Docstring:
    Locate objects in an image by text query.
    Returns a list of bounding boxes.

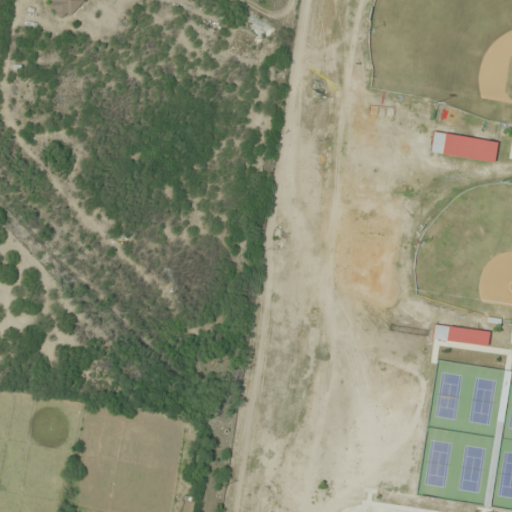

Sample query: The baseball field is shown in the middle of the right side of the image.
[416,184,512,317]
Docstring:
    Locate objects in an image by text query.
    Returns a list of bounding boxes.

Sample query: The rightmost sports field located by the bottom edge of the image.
[74,407,180,512]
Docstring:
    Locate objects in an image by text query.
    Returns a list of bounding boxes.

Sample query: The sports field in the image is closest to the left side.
[0,392,84,512]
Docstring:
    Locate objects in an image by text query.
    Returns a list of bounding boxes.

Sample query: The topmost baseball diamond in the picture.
[370,0,512,124]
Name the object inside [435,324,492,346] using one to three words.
building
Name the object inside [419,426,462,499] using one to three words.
tennis court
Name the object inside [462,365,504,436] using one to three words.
tennis court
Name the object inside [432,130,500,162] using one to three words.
building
